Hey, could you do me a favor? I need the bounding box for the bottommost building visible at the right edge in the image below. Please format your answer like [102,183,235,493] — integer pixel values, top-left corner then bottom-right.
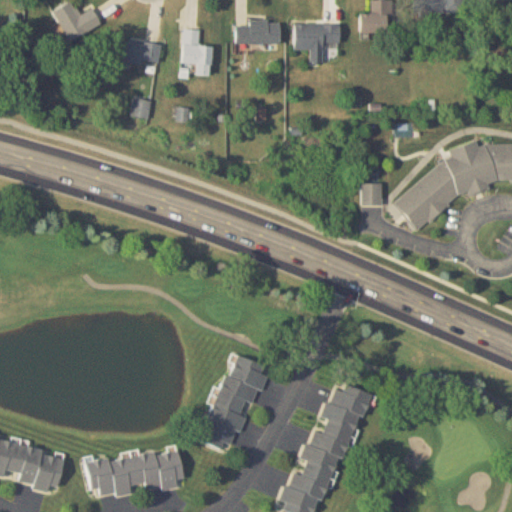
[389,137,512,231]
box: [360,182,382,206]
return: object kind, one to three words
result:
building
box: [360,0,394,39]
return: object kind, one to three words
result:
house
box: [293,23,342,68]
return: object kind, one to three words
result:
house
